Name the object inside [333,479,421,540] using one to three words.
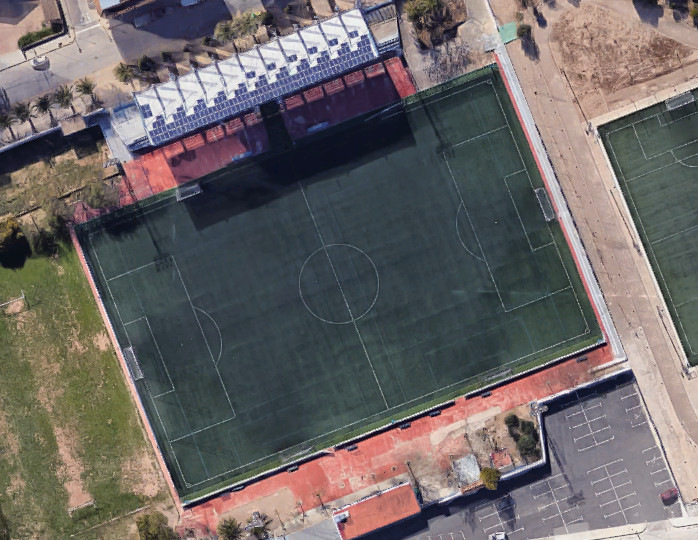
building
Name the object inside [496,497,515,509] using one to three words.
vehicle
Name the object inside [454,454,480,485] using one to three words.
shed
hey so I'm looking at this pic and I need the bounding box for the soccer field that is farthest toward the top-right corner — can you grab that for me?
[601,90,698,367]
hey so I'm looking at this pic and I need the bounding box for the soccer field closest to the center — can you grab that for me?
[76,65,607,505]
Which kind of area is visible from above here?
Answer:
sports ground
